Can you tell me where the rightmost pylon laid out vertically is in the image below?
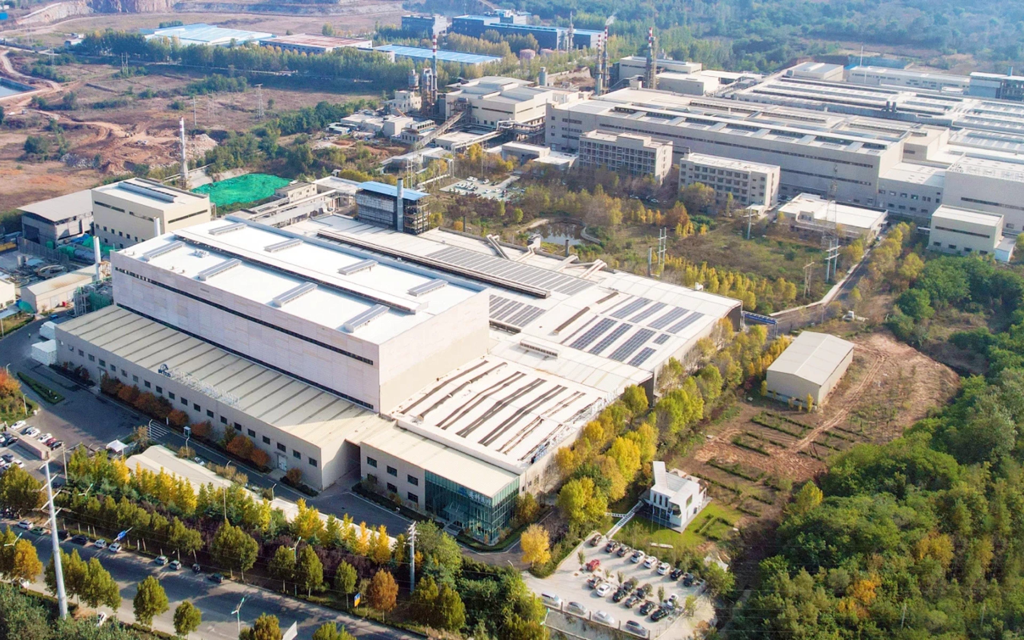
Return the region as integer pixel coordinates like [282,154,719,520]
[254,83,266,118]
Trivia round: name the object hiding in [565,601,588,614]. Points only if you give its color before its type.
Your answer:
gray vehicle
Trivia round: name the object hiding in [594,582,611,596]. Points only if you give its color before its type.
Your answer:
white car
